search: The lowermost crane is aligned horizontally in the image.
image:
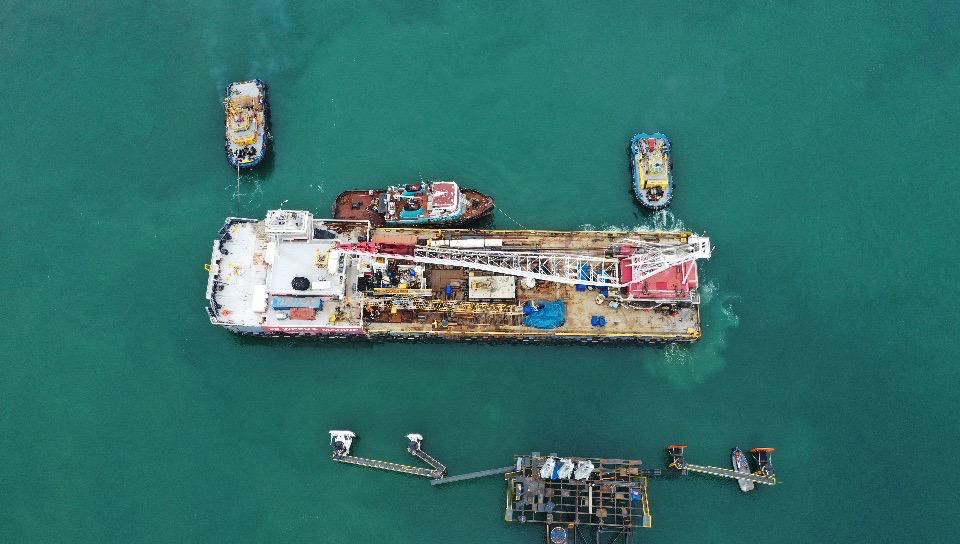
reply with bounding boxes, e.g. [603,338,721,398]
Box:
[335,234,713,305]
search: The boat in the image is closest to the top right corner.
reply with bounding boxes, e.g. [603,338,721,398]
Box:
[629,132,675,212]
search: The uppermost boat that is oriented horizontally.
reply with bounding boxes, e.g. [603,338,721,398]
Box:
[332,181,495,230]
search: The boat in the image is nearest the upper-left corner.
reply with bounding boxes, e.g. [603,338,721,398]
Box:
[225,79,271,170]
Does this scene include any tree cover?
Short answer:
No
